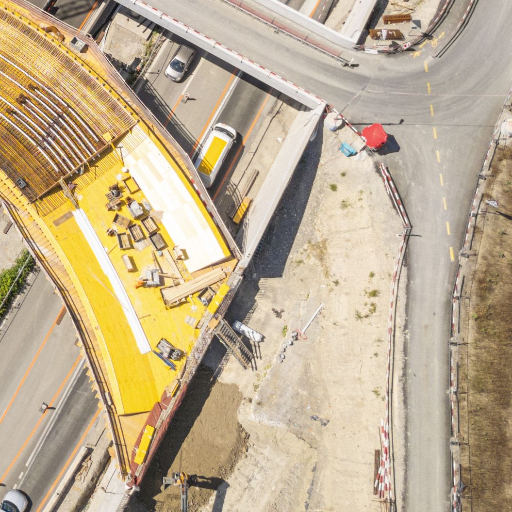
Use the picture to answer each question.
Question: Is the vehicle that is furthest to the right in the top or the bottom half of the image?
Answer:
top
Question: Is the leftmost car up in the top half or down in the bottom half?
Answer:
bottom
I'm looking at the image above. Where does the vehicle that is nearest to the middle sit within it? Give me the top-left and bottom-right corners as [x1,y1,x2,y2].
[196,122,243,192]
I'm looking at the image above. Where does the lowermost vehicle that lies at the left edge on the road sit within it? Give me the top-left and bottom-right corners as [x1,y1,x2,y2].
[0,486,31,512]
